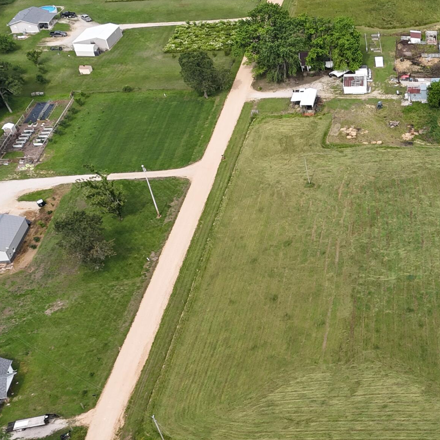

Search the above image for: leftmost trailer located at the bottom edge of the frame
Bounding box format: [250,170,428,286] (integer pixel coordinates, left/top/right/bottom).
[0,412,63,437]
